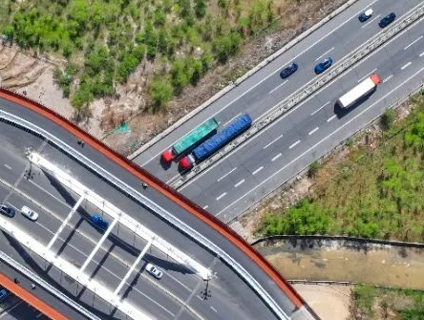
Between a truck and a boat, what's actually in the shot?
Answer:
truck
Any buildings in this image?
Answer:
No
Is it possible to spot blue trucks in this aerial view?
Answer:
Yes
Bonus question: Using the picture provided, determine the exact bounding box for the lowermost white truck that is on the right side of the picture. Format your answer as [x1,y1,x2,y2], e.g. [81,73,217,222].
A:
[335,69,385,107]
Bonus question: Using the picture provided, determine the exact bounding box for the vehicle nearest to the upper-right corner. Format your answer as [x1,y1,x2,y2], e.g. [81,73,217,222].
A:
[379,10,397,26]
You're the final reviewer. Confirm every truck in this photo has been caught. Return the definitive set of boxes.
[335,69,385,107]
[160,117,219,162]
[181,115,252,168]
